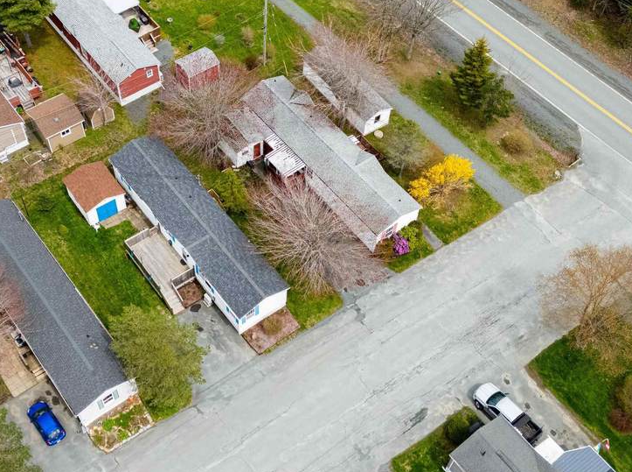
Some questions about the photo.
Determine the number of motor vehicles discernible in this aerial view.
2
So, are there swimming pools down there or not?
No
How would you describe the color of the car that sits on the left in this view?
blue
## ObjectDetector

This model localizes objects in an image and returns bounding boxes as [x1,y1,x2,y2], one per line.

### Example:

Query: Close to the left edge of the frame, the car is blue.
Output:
[26,399,67,450]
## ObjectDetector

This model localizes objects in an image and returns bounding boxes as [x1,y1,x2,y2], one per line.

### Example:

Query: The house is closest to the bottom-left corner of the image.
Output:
[0,200,134,428]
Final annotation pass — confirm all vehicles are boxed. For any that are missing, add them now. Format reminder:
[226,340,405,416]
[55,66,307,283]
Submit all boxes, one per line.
[469,382,548,446]
[26,399,67,450]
